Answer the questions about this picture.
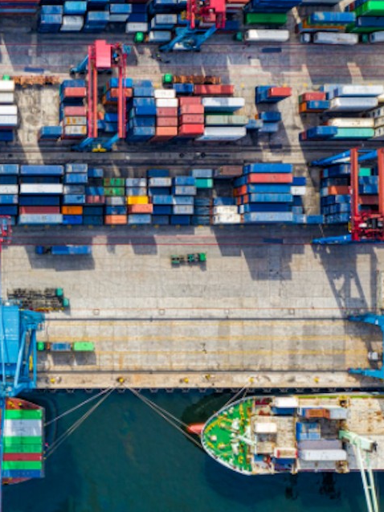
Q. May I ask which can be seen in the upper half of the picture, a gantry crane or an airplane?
gantry crane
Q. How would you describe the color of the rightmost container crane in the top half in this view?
red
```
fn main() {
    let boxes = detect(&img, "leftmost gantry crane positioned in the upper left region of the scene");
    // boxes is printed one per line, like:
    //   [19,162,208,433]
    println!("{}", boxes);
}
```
[68,35,128,155]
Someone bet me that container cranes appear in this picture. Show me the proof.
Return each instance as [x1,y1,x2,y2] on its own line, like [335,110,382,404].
[0,197,40,512]
[68,35,128,155]
[350,312,384,380]
[306,149,384,250]
[158,0,227,54]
